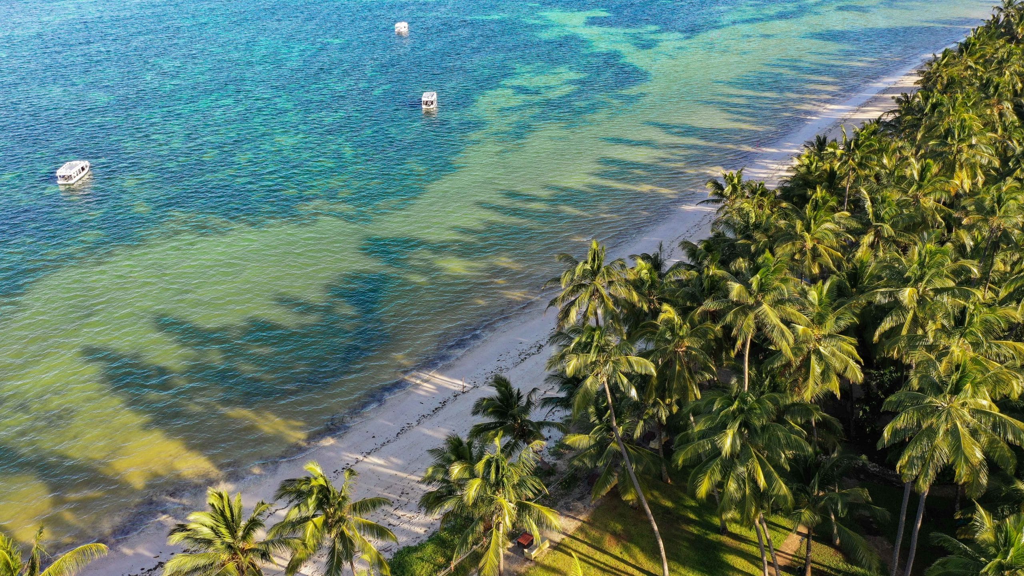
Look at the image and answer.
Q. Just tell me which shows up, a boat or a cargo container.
boat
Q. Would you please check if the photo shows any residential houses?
No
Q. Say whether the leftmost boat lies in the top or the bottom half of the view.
top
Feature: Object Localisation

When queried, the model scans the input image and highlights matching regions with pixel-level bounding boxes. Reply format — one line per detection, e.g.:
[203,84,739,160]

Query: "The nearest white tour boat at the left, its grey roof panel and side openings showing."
[56,153,93,184]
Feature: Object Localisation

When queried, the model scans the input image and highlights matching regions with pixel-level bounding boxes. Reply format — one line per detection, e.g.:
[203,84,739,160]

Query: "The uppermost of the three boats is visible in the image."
[393,21,408,33]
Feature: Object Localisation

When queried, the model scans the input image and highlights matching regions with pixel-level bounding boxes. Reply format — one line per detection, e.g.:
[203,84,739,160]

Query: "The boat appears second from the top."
[423,88,436,109]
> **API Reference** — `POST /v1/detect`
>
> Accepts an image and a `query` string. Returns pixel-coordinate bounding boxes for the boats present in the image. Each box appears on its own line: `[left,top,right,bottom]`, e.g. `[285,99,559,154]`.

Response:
[56,153,93,184]
[423,88,436,109]
[393,21,408,33]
